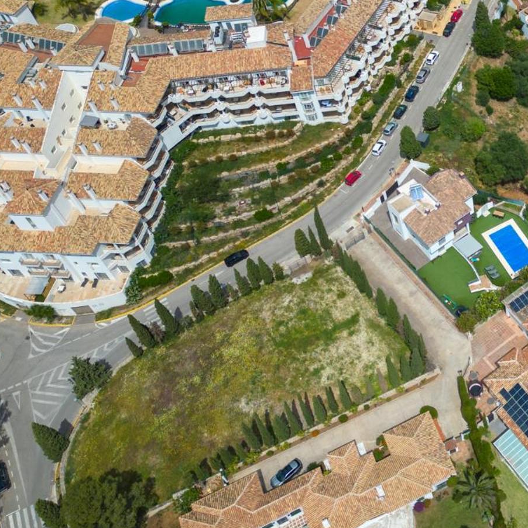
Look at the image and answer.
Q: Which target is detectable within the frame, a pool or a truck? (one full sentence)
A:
There is a pool in the scene.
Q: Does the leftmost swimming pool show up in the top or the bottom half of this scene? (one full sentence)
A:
You can find the leftmost swimming pool in the top half.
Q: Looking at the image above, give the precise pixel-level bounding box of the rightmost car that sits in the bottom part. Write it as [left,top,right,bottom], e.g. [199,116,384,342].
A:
[269,457,304,488]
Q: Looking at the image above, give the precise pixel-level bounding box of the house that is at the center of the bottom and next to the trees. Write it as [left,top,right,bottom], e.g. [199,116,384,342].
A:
[177,411,454,528]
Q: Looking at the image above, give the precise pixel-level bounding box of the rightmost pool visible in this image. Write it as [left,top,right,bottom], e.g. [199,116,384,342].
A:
[479,215,528,282]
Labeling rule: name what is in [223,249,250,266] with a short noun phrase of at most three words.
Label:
car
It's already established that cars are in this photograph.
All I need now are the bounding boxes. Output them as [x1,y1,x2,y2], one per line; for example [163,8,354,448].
[448,8,465,22]
[0,462,13,494]
[402,83,422,102]
[269,457,304,488]
[415,66,432,83]
[392,104,409,120]
[343,170,363,185]
[382,121,399,136]
[370,138,389,157]
[223,249,250,266]
[424,50,440,65]
[441,19,457,38]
